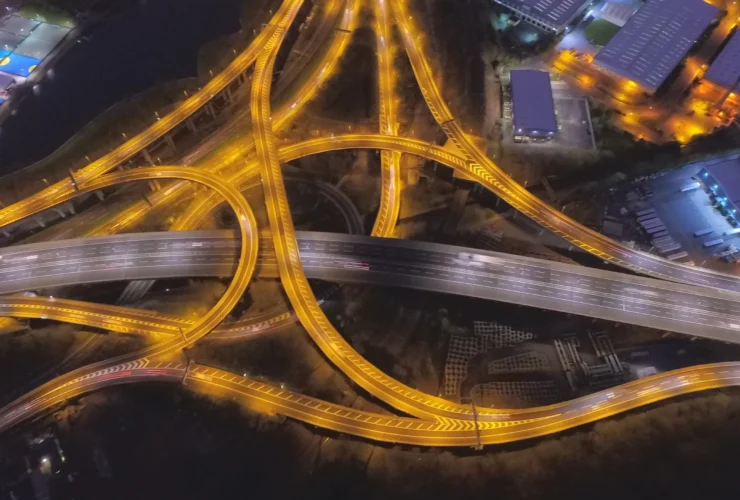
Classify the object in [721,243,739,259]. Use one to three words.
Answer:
vehicle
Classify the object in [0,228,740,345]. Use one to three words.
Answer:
bridge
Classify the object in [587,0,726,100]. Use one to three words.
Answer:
building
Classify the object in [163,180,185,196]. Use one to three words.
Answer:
vehicle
